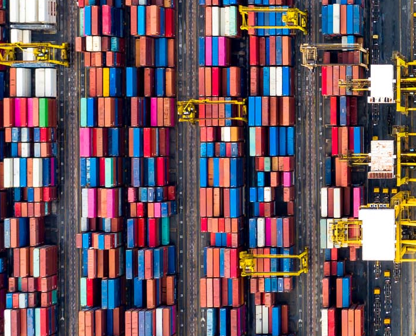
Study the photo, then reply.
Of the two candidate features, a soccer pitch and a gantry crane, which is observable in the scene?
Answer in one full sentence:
Visible in the photo is a gantry crane.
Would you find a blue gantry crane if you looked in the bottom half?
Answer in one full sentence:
No, there's no blue gantry crane to be seen in the bottom half.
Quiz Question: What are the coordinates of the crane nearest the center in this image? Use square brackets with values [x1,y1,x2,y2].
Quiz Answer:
[176,96,248,126]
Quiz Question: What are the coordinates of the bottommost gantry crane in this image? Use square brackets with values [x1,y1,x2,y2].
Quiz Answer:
[239,243,312,280]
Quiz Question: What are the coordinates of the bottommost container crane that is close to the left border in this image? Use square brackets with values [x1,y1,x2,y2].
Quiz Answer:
[0,42,75,71]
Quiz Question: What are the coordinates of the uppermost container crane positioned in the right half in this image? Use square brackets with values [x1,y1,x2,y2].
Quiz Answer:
[239,5,312,37]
